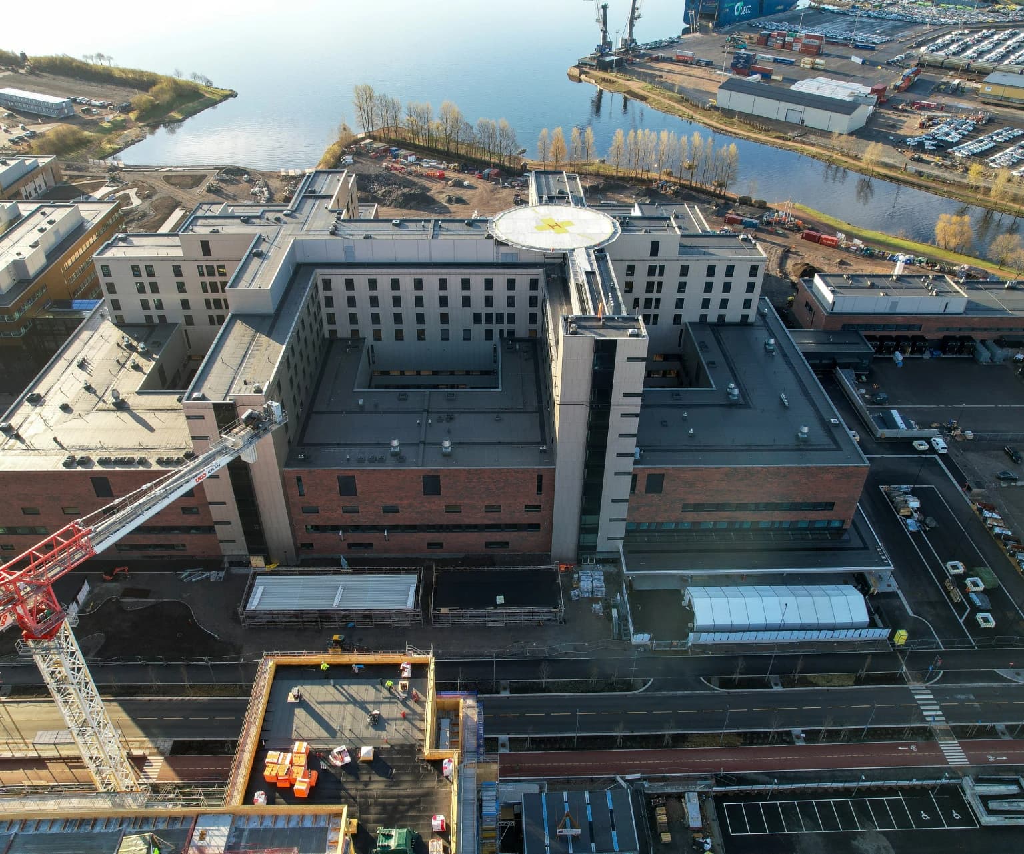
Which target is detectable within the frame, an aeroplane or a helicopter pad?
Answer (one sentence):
Looking from above, you can make out a helicopter pad.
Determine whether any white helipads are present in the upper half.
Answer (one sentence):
Yes, there is a white helipad in the upper half.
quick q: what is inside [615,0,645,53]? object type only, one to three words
crane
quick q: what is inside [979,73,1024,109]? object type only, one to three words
shed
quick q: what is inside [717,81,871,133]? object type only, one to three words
shed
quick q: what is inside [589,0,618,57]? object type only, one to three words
crane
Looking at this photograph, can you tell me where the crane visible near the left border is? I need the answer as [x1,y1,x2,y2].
[0,407,290,791]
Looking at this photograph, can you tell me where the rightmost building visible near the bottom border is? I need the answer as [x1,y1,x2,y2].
[520,790,638,854]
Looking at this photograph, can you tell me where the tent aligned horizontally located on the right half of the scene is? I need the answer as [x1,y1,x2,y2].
[681,576,871,631]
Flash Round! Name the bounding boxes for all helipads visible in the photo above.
[488,205,619,301]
